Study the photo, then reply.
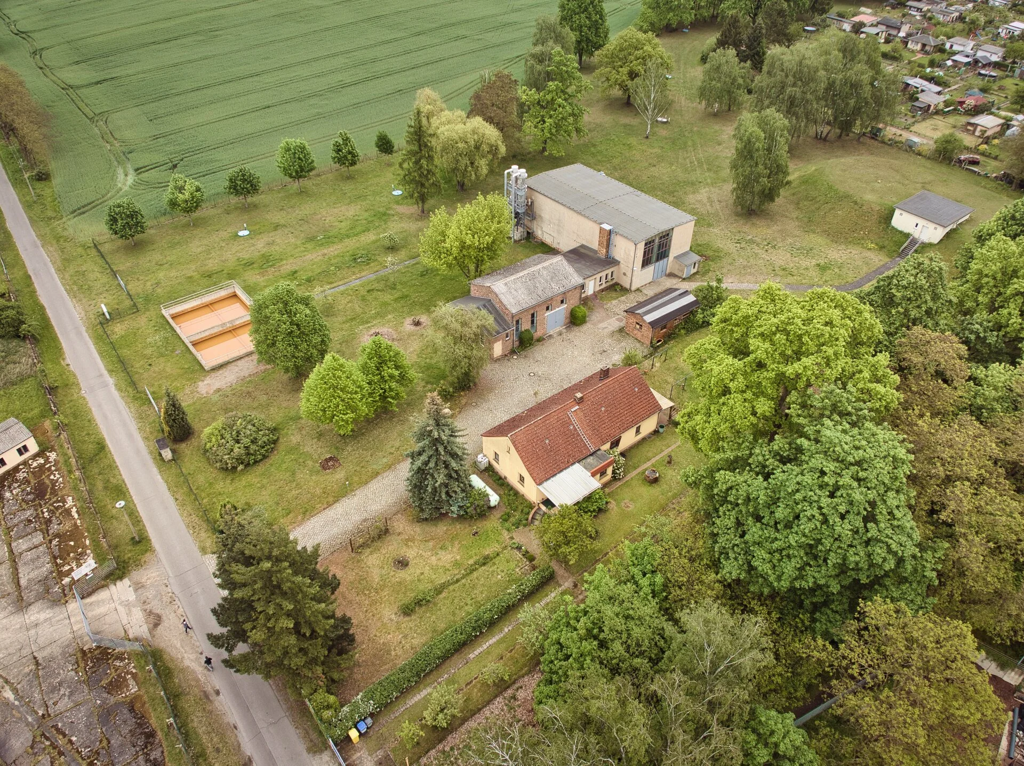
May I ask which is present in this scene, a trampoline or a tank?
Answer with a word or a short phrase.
tank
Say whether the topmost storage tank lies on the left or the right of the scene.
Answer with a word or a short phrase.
left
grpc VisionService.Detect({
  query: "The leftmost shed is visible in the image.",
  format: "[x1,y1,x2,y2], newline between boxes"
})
[0,407,40,469]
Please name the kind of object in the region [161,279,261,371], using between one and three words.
storage tank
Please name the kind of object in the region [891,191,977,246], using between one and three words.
building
